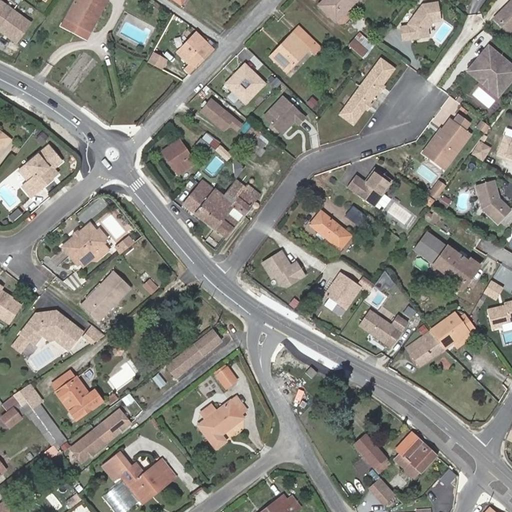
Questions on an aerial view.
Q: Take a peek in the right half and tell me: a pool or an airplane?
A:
pool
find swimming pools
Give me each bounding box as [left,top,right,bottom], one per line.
[430,19,454,47]
[0,170,24,212]
[82,366,94,384]
[26,340,68,373]
[364,288,387,310]
[98,208,136,245]
[500,330,512,346]
[116,12,155,48]
[416,160,442,188]
[386,199,418,231]
[202,154,226,178]
[455,187,474,214]
[467,84,502,113]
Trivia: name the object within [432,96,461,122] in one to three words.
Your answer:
shed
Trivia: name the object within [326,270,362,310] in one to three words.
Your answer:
house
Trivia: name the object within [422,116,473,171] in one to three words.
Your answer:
house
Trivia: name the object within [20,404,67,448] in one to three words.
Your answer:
barn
